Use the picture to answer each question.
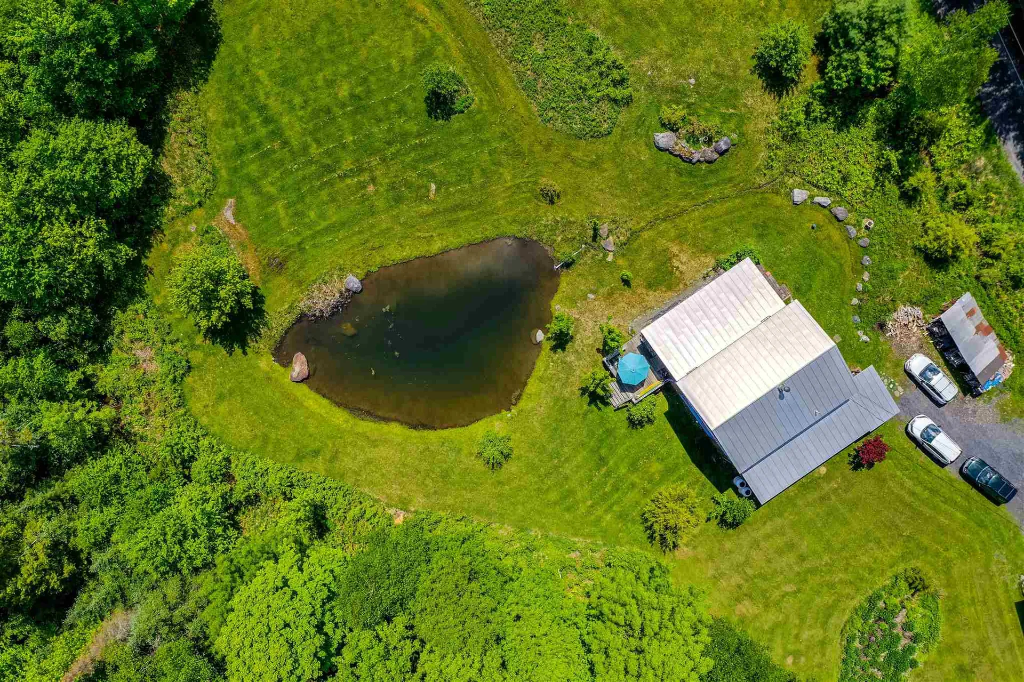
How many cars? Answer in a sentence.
The count of cars comes to 3.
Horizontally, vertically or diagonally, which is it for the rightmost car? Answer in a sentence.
The rightmost car is oriented diagonally.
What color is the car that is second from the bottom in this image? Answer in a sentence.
The car that is second from the bottom looks white in the image.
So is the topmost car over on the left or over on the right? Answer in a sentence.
It is on the right.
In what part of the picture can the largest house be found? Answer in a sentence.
The largest house is in the right part of the image.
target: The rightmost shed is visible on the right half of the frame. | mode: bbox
[926,290,1009,387]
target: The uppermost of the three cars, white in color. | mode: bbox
[902,353,960,405]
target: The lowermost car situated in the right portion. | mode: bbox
[958,456,1018,507]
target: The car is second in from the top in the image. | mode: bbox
[905,414,963,466]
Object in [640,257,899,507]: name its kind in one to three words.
house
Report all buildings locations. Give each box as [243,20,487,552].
[926,290,1009,387]
[640,257,899,507]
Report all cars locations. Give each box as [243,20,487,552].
[905,414,963,466]
[902,353,960,405]
[958,456,1018,507]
